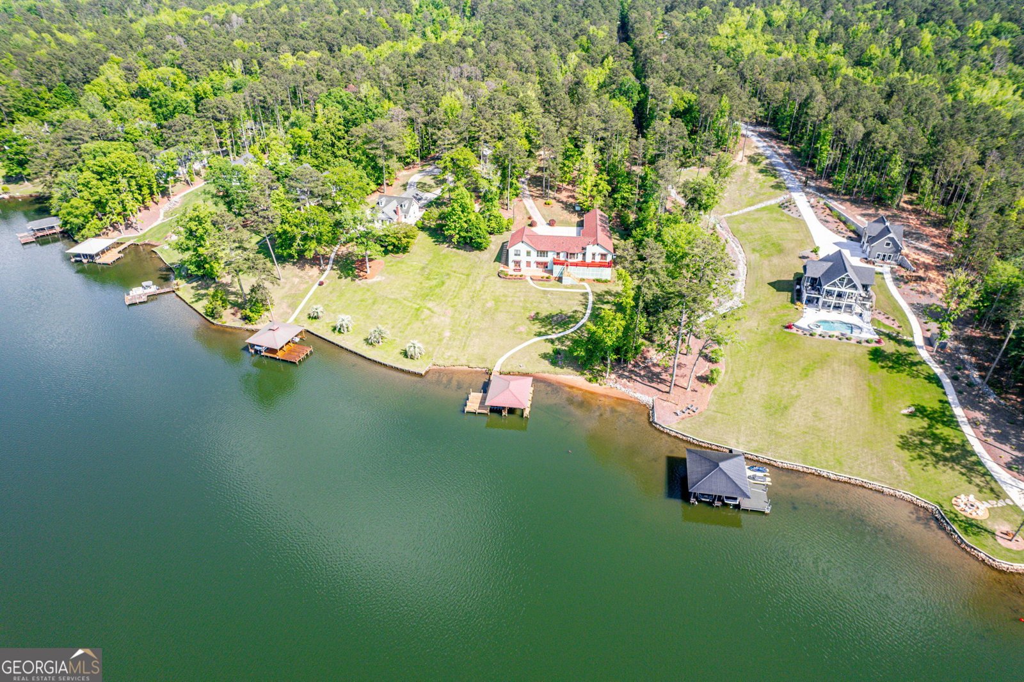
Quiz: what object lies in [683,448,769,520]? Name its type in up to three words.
building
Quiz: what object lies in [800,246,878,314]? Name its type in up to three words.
house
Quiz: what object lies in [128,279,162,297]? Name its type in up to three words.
boat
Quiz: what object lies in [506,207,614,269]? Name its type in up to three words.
house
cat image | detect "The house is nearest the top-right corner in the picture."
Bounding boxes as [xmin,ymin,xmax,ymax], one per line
[860,215,910,261]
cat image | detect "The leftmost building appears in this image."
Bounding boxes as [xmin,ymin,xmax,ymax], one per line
[13,217,72,248]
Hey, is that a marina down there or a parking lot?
marina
